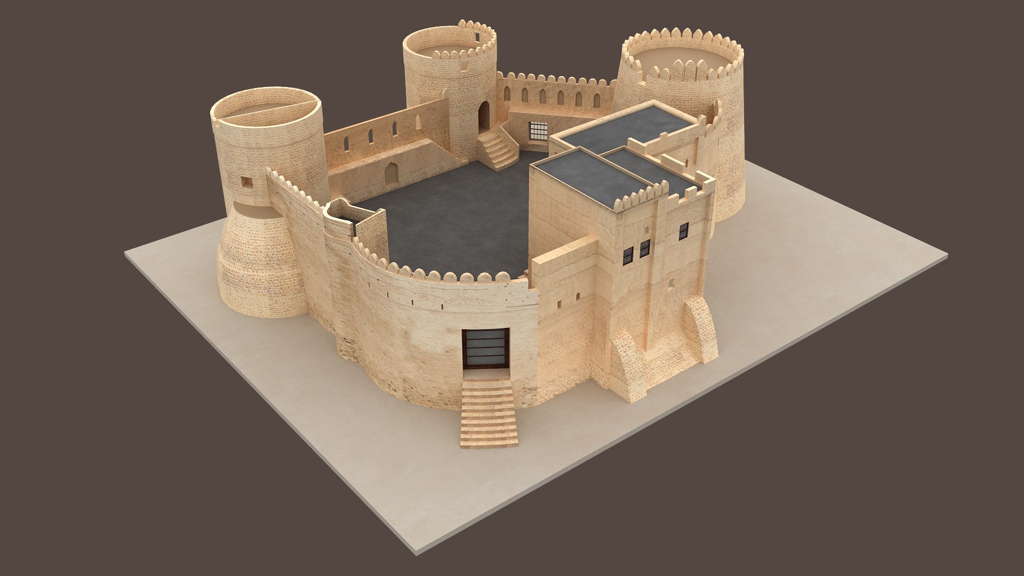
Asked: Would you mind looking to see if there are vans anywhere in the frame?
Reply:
No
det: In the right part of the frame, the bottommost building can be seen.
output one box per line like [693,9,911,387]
[528,138,718,403]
